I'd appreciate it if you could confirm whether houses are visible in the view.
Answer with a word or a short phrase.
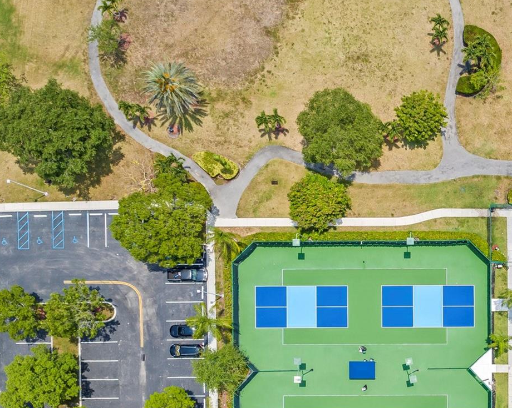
No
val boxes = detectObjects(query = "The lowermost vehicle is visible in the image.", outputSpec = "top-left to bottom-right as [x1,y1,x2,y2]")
[170,344,204,359]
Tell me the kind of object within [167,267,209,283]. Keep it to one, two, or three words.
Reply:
vehicle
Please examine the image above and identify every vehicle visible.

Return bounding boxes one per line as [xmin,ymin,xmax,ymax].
[166,324,198,339]
[167,267,209,283]
[170,344,204,359]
